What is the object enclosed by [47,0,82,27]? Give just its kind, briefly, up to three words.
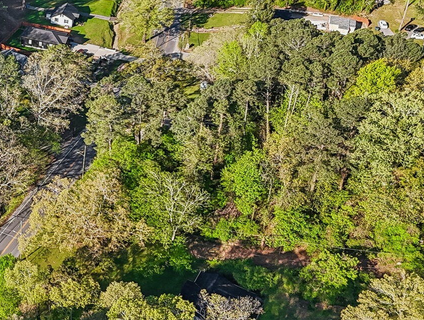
house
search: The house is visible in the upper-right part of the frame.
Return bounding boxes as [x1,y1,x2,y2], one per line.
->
[328,14,361,34]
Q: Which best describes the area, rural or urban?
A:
rural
